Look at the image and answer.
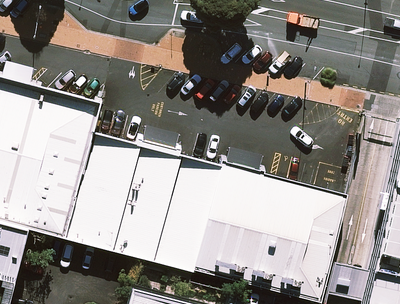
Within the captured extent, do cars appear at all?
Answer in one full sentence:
Yes, the frame does contain a car.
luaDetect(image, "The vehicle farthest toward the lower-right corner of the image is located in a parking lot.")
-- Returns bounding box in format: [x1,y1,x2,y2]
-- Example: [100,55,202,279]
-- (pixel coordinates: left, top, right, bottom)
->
[378,254,400,269]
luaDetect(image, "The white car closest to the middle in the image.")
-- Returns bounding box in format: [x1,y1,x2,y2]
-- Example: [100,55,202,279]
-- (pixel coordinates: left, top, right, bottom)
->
[207,132,220,158]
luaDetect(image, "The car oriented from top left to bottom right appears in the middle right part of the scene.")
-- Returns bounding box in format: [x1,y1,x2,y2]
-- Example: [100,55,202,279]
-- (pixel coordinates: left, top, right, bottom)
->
[289,124,316,147]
